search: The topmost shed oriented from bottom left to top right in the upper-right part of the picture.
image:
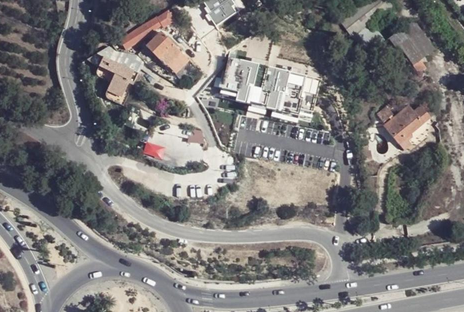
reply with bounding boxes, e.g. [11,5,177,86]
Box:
[344,0,382,30]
